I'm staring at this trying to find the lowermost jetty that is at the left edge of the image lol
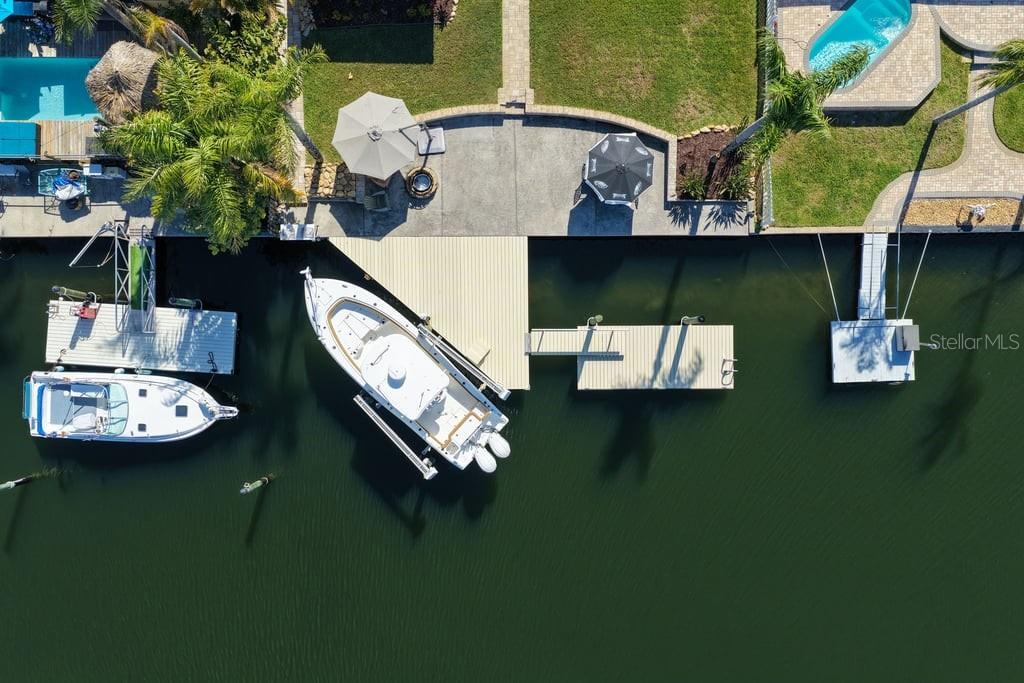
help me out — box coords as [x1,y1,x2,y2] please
[45,293,237,374]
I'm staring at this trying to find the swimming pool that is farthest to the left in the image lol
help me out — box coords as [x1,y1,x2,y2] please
[0,56,103,122]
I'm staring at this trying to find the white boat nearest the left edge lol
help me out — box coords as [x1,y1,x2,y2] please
[23,372,237,443]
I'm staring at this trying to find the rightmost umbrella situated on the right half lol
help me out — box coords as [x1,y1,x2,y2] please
[584,134,654,203]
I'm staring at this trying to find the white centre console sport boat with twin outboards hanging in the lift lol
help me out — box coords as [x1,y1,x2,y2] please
[296,272,514,473]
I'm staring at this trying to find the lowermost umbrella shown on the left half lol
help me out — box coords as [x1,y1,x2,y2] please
[332,92,445,180]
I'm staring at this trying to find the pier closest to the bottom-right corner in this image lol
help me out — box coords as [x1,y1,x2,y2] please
[832,320,915,383]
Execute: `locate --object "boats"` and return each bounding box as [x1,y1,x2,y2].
[23,372,237,443]
[296,272,514,473]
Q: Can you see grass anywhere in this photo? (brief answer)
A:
Yes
